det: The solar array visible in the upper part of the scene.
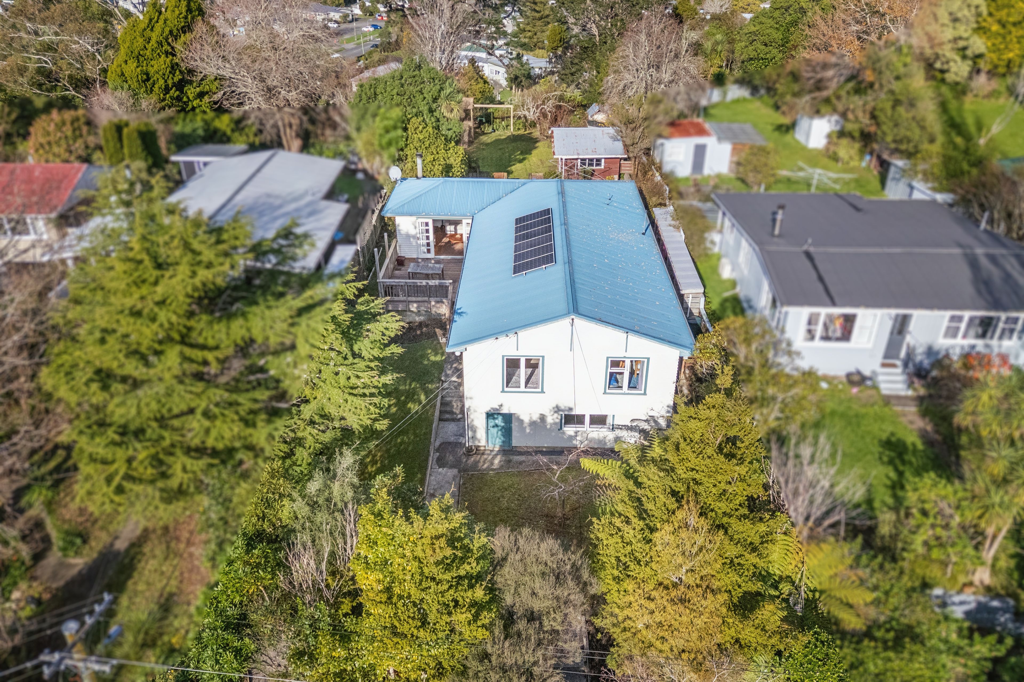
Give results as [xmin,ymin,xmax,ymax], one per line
[511,207,552,277]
